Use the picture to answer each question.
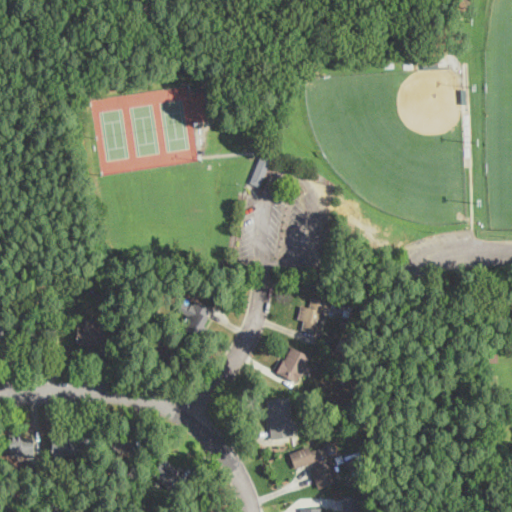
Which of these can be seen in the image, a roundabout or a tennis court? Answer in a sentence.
The image shows a tennis court.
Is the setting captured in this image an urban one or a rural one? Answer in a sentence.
This place is rural.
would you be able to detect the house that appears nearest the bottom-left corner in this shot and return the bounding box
[8,438,36,458]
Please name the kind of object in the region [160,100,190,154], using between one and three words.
tennis court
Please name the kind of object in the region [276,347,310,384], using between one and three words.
house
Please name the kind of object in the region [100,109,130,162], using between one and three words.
tennis court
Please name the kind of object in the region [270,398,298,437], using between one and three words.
house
